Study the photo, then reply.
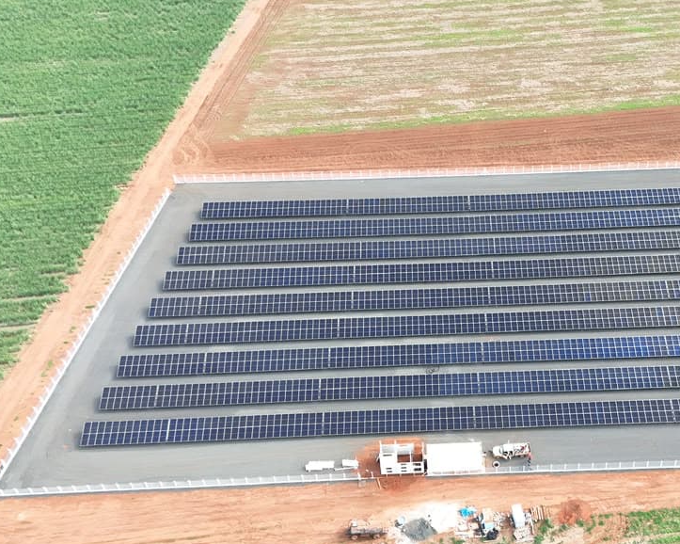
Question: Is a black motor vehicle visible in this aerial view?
No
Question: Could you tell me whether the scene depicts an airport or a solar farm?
solar farm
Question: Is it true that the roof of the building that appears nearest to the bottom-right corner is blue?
No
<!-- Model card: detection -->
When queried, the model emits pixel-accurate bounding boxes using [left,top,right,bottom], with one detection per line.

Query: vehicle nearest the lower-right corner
[511,509,528,537]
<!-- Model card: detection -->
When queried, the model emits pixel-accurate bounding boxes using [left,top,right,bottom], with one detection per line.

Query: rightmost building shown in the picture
[426,440,484,473]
